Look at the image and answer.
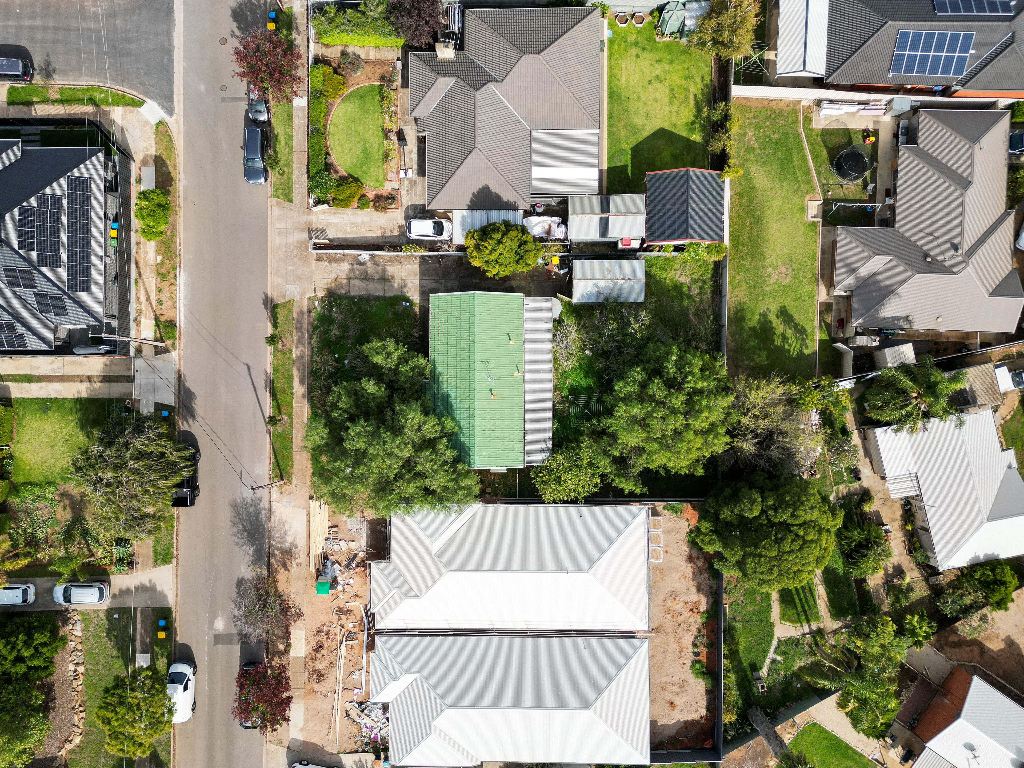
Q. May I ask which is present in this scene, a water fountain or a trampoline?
trampoline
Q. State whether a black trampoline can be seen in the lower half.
No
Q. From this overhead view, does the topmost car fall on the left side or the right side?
left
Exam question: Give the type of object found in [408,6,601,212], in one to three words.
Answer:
house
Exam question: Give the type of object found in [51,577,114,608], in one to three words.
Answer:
car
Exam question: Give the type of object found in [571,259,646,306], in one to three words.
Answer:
shed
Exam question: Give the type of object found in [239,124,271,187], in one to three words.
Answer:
car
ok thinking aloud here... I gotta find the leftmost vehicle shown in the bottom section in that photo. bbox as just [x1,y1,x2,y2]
[0,579,34,607]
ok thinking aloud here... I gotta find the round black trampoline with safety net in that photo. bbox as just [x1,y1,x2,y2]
[830,143,880,187]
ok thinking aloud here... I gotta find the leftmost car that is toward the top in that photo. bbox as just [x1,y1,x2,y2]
[0,51,31,84]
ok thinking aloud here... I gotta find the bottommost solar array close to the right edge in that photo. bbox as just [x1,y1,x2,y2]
[890,30,976,77]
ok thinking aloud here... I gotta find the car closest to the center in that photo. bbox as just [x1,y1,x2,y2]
[404,213,452,242]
